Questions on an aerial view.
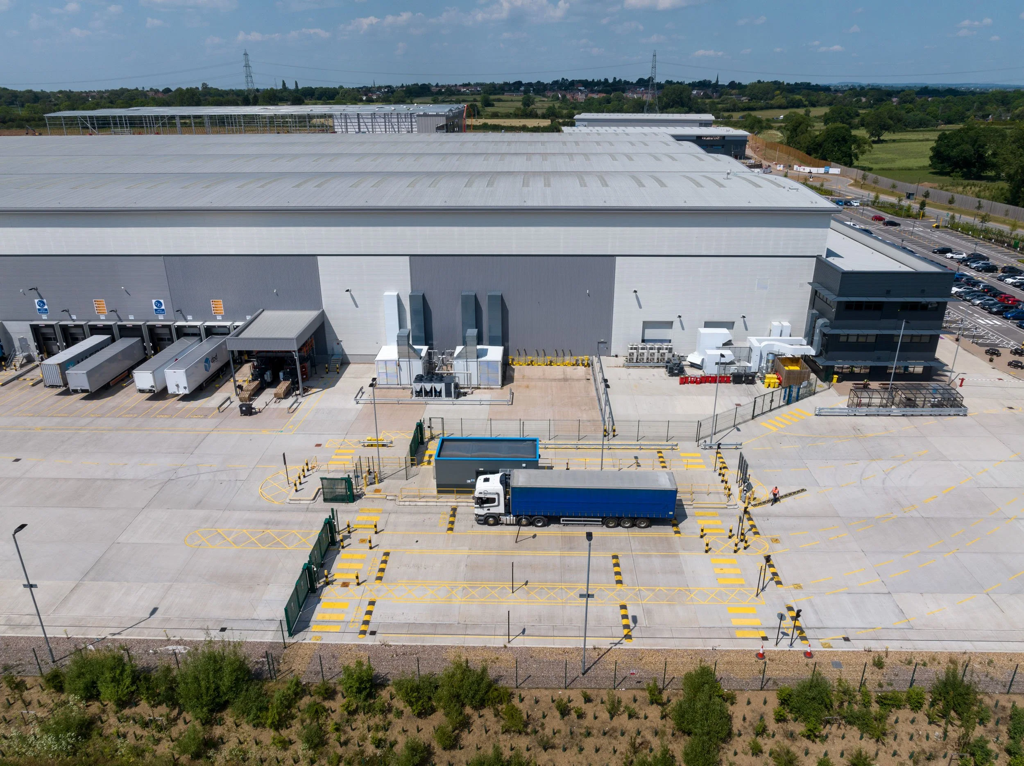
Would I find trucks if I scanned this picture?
Yes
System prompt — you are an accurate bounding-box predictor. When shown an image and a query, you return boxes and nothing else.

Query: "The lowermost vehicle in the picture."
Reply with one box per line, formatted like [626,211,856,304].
[472,470,677,527]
